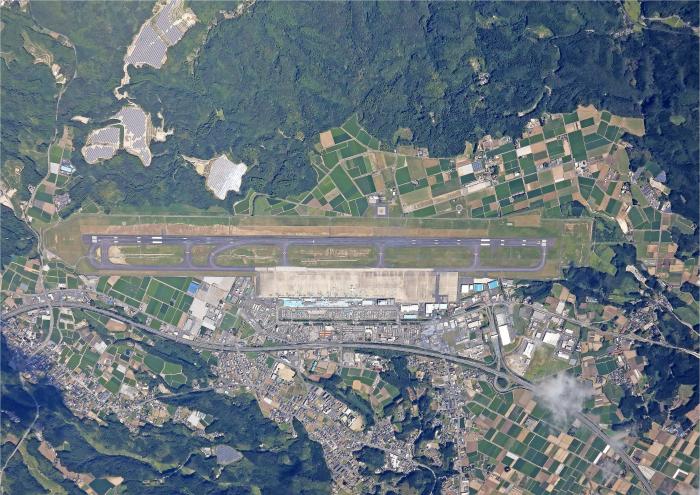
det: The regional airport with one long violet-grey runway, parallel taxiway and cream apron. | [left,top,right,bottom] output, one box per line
[44,213,593,309]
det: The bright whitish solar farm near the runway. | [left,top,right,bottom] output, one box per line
[207,155,247,199]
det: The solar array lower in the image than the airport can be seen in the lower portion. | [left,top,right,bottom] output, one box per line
[212,444,244,465]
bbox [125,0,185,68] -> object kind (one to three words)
solar array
